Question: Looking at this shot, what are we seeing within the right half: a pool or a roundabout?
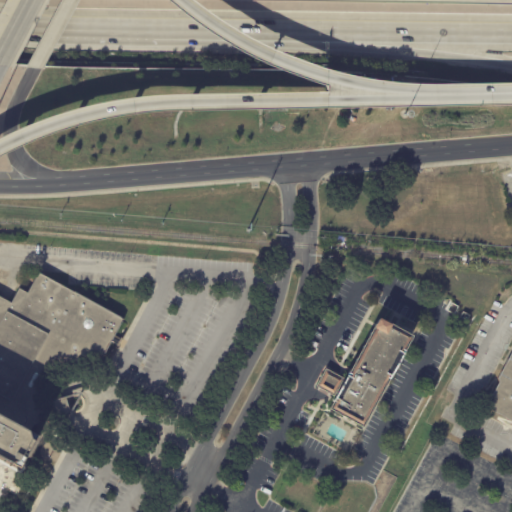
pool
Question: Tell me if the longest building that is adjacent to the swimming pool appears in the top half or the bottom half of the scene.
bottom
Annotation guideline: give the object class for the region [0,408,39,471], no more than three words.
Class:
building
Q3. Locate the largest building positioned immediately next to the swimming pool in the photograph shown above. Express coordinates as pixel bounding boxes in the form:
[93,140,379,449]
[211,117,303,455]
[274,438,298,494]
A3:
[332,317,414,426]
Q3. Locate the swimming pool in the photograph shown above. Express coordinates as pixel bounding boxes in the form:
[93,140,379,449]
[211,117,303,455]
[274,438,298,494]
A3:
[306,410,365,451]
